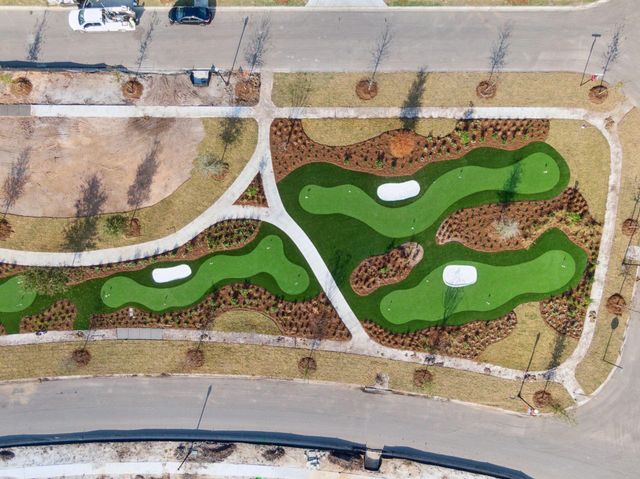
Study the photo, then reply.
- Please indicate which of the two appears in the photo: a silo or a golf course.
golf course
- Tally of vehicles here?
two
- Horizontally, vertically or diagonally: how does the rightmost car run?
horizontally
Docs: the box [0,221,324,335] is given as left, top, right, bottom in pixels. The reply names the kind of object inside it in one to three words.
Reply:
golf course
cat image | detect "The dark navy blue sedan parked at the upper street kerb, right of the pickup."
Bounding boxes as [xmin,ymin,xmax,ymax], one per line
[169,3,214,26]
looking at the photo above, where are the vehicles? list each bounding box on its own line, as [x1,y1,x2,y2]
[169,3,214,26]
[68,4,136,32]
